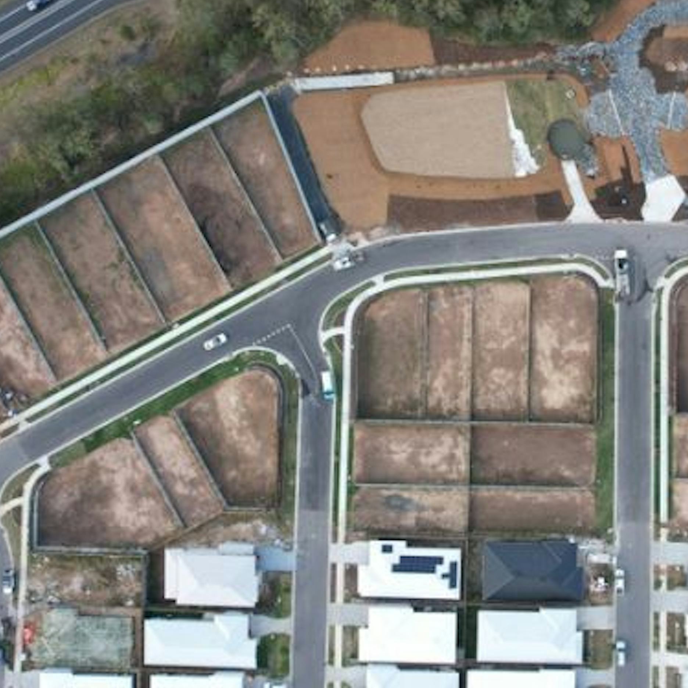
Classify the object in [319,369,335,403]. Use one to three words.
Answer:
vehicle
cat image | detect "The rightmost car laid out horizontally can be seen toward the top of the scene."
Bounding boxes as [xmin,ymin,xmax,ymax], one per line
[331,254,356,269]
